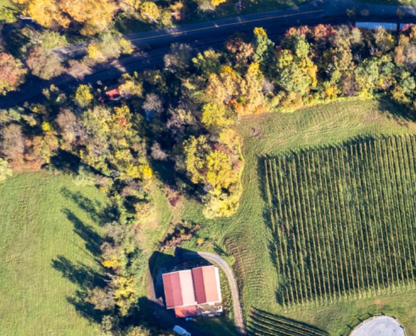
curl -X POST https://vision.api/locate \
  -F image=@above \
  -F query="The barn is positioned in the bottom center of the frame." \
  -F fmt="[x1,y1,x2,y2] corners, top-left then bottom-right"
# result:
[163,266,224,317]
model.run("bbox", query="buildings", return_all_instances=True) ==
[163,266,224,317]
[105,84,124,98]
